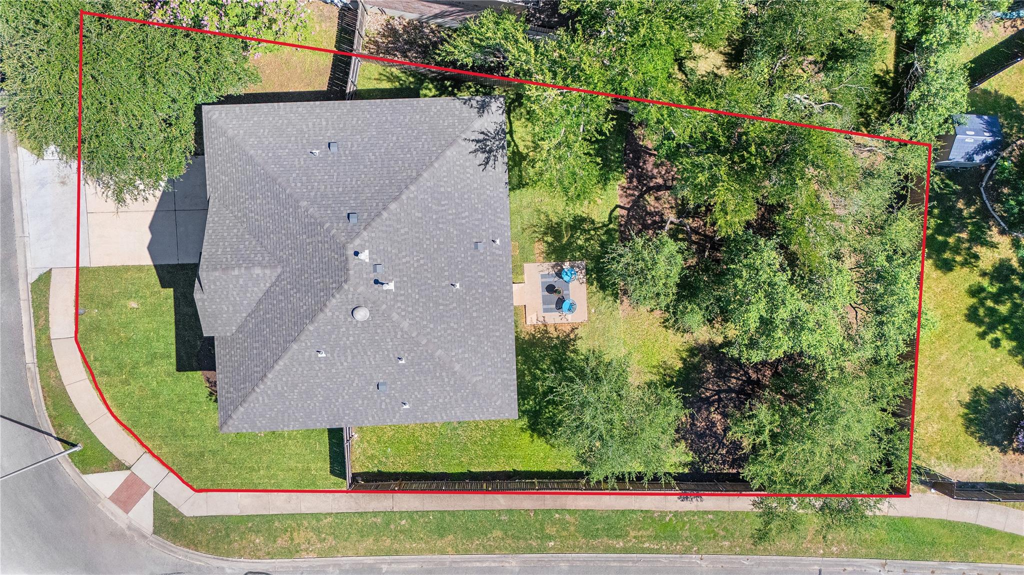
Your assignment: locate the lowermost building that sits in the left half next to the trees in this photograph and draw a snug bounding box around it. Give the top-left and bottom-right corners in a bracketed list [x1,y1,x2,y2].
[194,91,521,434]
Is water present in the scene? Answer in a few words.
No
